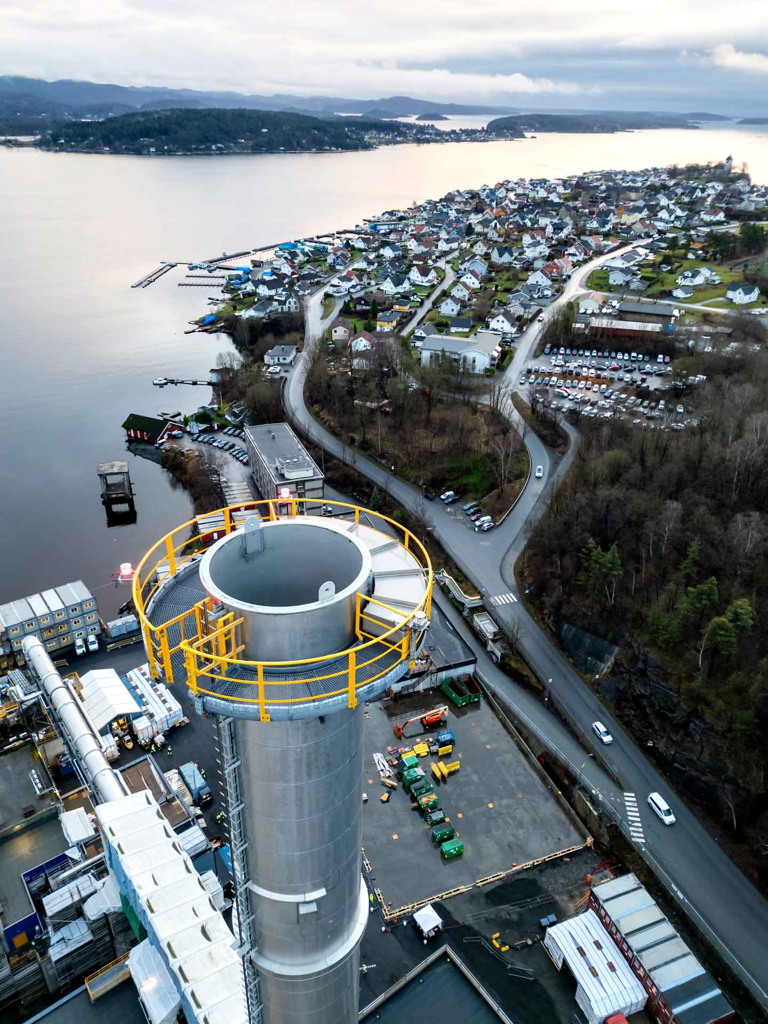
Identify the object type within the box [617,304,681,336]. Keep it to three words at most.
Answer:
shed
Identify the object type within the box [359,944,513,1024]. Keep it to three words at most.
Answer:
building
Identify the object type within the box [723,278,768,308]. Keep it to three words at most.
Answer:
house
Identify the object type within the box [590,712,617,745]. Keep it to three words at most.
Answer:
car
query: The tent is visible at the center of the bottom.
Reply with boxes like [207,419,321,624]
[409,895,450,947]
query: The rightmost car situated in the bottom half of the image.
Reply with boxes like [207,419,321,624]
[647,784,679,824]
